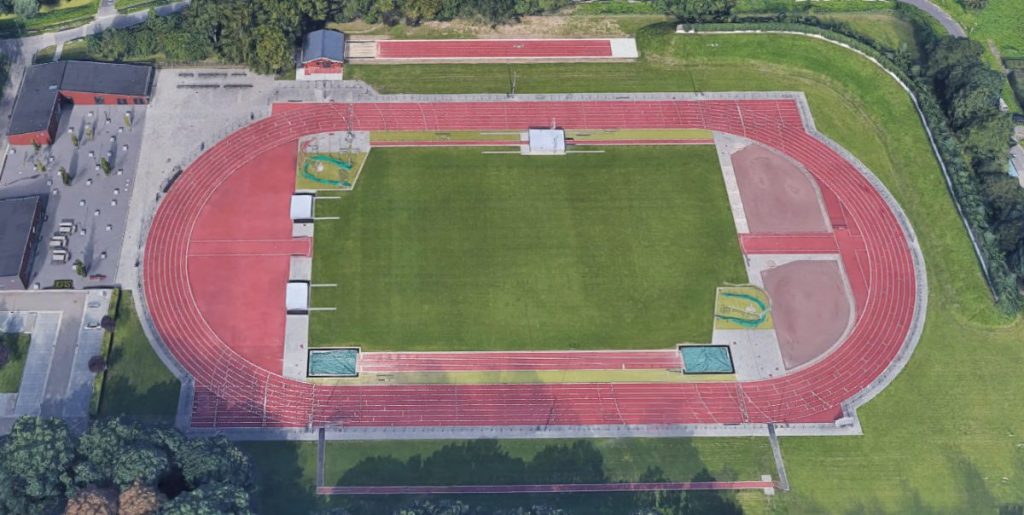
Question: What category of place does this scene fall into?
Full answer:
This looks like a sports ground.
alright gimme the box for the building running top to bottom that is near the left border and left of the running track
[0,193,45,287]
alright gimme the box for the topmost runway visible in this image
[377,37,639,59]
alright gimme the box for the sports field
[296,142,749,352]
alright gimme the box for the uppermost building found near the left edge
[6,59,155,145]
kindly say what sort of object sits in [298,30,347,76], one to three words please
building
